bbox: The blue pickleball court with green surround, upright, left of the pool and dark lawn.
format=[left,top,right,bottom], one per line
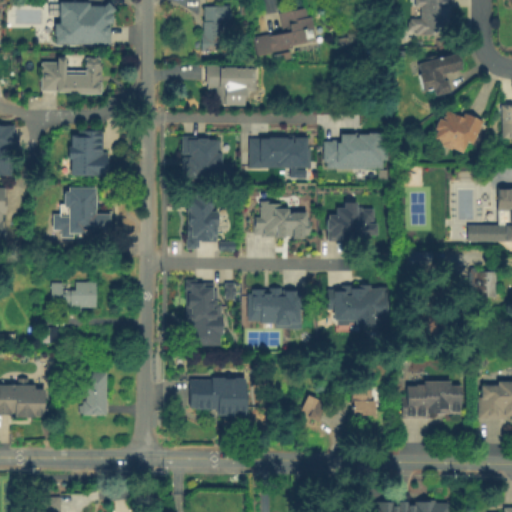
[405,187,431,231]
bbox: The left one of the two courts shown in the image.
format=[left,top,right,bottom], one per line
[244,328,282,350]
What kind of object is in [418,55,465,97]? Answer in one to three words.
house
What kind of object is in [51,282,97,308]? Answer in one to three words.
house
